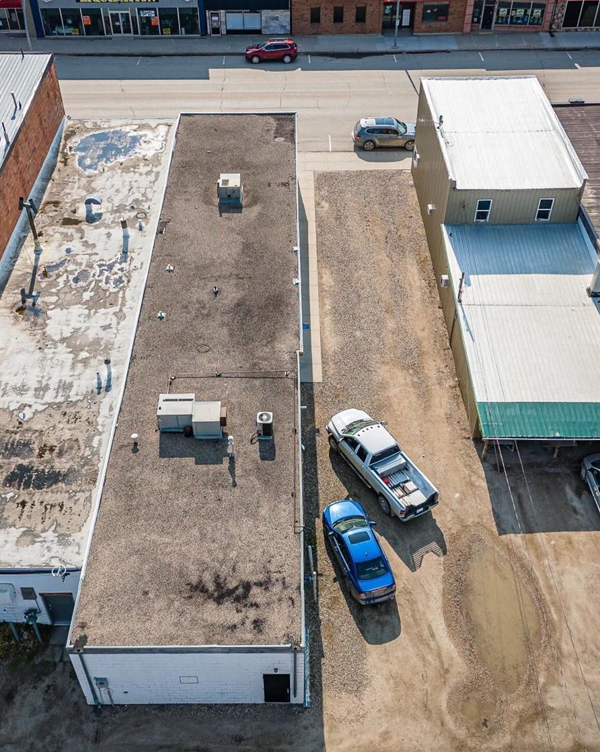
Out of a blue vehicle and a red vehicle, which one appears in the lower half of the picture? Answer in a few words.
blue vehicle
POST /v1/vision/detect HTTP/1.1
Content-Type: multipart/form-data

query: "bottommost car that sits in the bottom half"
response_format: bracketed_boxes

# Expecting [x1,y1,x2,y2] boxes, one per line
[324,501,402,605]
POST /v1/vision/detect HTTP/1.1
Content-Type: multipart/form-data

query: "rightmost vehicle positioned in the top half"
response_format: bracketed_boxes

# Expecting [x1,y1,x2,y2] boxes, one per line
[354,113,416,148]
